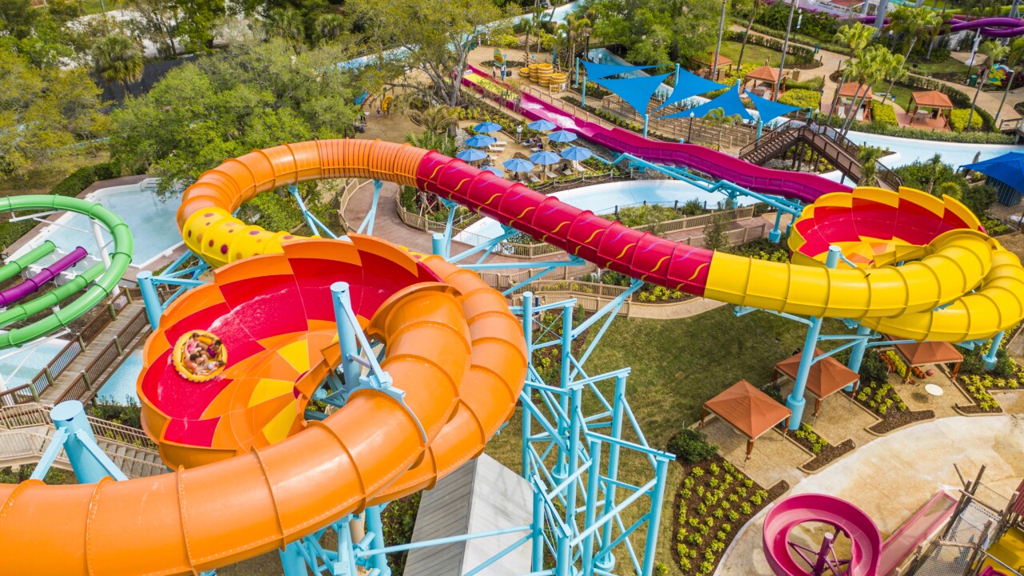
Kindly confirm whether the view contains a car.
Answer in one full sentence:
No, the photo shows no car.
